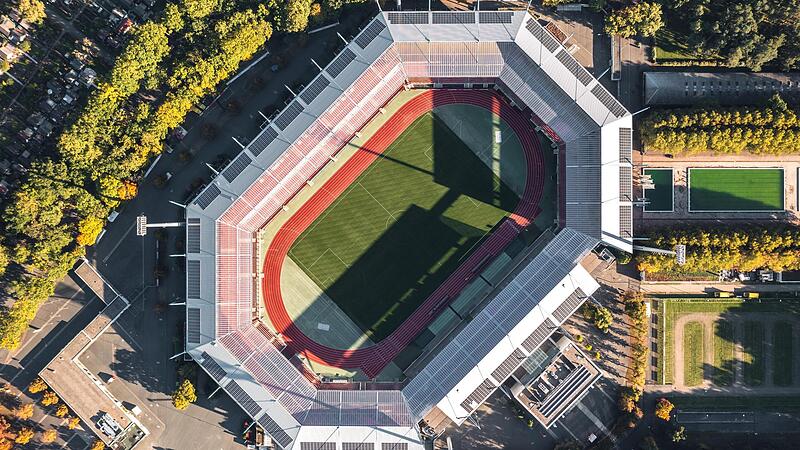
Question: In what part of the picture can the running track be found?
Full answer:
Look in the center portion of the view to spot the running track.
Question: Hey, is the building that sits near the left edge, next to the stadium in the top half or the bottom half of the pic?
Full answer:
You can find the building that sits near the left edge, next to the stadium in the bottom half.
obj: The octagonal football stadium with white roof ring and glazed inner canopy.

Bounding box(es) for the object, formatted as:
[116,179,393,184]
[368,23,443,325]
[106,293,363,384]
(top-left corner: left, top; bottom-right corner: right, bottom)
[168,0,649,450]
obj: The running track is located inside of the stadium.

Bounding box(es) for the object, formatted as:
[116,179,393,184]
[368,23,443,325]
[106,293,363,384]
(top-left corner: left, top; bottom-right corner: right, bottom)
[257,82,560,384]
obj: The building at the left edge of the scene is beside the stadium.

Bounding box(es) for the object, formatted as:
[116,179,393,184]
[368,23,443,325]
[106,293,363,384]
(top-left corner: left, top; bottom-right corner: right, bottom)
[38,260,156,450]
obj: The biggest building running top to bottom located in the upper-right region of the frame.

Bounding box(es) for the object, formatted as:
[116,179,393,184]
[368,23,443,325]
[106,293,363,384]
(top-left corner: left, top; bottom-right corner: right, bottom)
[609,37,623,82]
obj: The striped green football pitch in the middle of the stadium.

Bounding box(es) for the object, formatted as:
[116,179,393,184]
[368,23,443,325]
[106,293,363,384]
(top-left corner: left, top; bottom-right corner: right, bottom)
[288,112,520,344]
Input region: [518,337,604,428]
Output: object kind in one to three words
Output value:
building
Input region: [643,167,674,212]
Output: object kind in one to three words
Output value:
swimming pool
